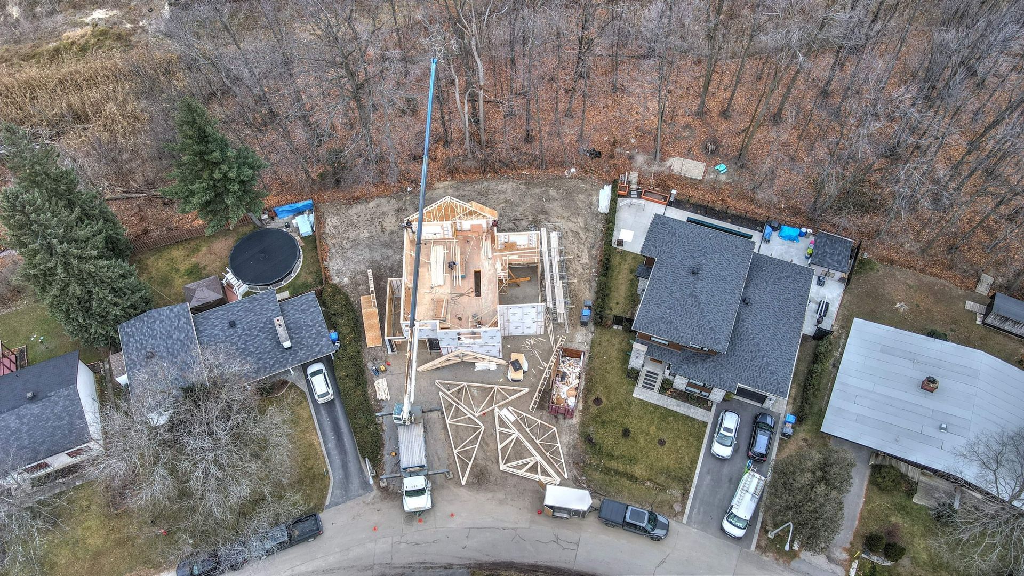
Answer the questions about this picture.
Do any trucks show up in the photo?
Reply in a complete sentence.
Yes, there's a truck here.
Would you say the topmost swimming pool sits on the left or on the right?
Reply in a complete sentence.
You can find the topmost swimming pool on the right side of the picture.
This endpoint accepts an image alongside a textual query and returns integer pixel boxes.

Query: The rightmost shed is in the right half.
[972,292,1024,355]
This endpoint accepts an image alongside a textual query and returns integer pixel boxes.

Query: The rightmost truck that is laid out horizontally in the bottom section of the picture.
[594,497,671,541]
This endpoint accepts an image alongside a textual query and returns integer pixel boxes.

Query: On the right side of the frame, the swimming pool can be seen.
[686,216,754,240]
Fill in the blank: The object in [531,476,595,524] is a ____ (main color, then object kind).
white trailer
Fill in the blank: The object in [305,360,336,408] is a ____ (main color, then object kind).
white car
